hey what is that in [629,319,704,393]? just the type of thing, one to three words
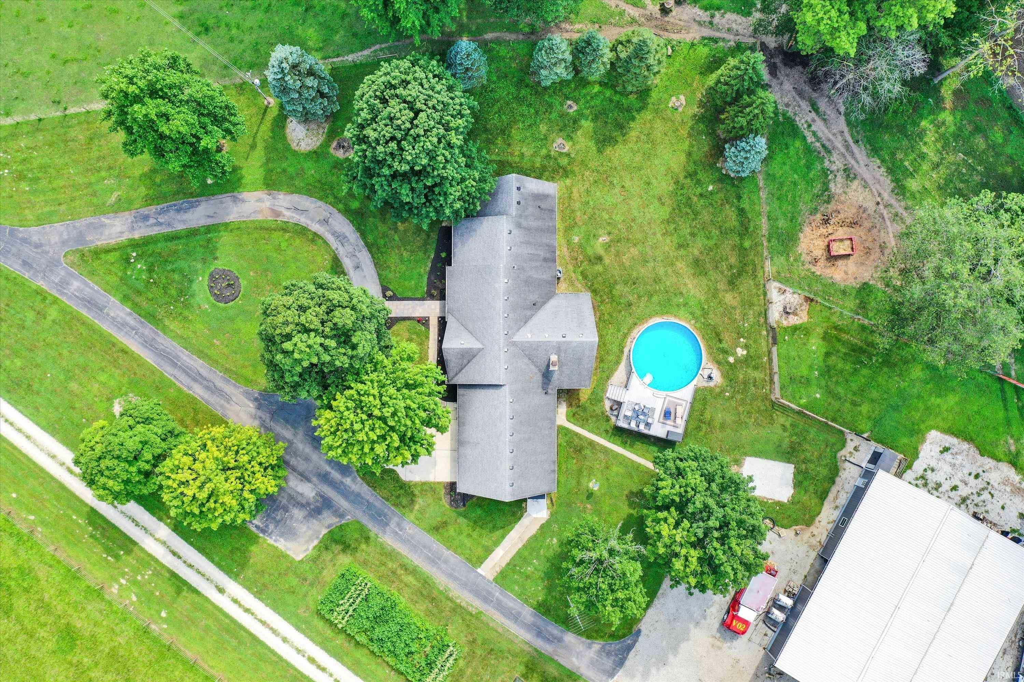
swimming pool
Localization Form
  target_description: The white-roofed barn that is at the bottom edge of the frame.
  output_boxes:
[760,465,1024,682]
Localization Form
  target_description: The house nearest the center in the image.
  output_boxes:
[442,173,599,502]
